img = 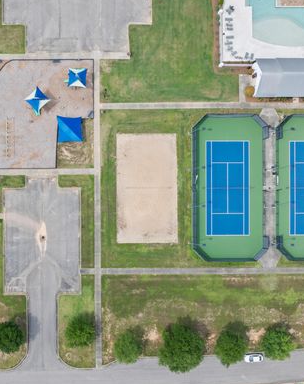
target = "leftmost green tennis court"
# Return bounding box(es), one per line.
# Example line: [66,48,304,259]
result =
[195,114,264,261]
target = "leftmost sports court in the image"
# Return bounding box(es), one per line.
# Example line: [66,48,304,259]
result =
[116,133,178,244]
